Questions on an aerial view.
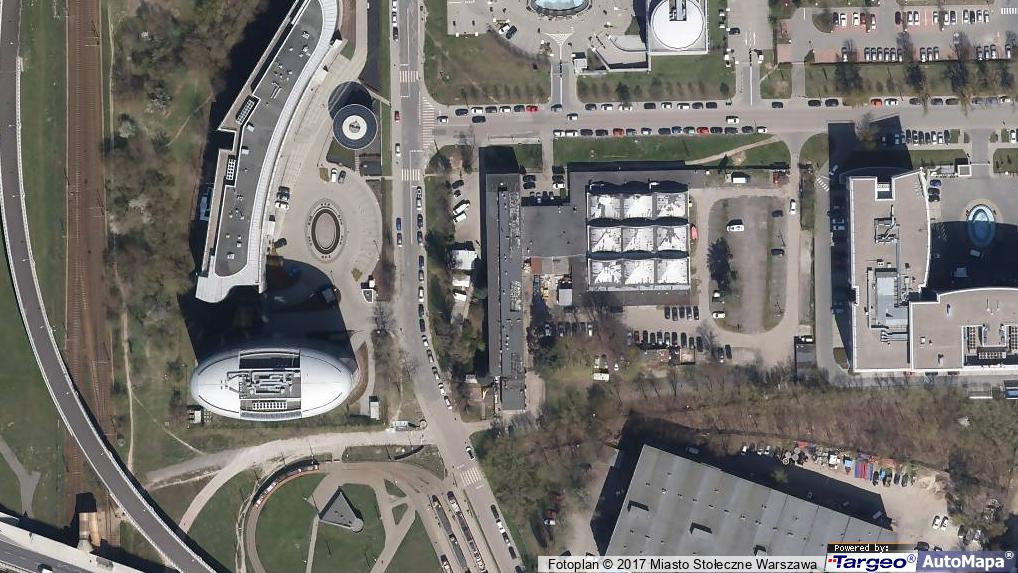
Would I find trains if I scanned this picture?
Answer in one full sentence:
Yes, looking at the shot, I can spot a train.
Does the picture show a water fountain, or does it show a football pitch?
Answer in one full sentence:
Visible in the photo is a water fountain.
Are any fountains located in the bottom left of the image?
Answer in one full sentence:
No, looking in the bottom left of the image, there is no fountain.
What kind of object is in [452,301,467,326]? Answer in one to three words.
building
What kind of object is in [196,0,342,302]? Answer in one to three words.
building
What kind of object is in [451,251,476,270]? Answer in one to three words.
shed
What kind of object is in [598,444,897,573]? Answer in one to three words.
warehouse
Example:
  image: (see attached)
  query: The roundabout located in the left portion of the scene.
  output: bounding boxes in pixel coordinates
[305,201,346,260]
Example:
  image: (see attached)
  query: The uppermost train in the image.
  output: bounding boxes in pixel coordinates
[255,464,317,504]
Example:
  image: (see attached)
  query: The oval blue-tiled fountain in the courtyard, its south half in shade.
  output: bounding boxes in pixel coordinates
[960,196,1002,252]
